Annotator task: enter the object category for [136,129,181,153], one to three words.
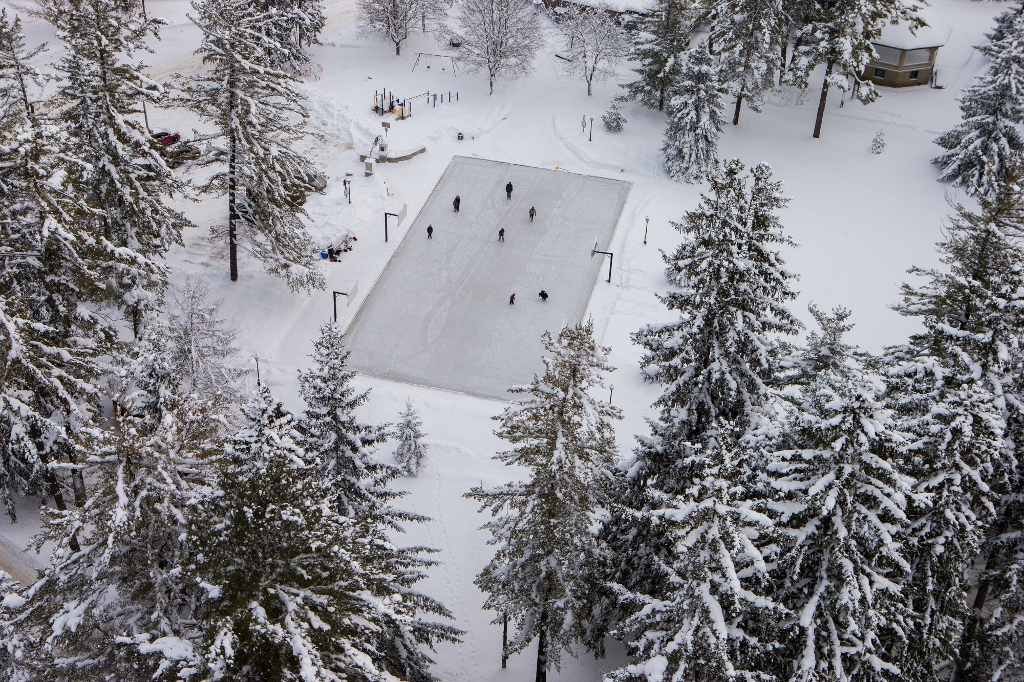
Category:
car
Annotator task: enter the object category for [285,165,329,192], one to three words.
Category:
car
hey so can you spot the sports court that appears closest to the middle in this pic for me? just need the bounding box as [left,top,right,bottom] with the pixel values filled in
[342,157,633,406]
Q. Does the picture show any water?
No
